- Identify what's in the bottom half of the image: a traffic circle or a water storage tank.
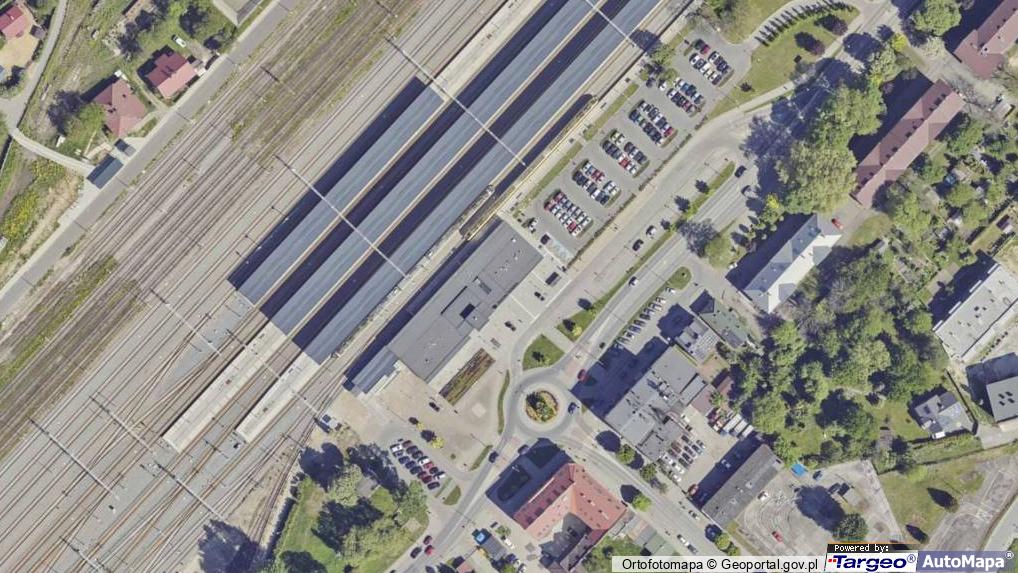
traffic circle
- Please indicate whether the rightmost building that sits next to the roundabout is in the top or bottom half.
bottom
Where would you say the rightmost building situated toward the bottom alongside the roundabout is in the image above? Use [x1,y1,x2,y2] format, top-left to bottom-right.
[605,344,709,462]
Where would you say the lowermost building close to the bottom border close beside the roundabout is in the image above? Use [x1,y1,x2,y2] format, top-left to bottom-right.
[512,464,627,572]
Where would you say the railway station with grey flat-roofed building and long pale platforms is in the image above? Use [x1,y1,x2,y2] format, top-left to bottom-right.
[163,0,662,454]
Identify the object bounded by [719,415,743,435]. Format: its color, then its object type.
white vehicle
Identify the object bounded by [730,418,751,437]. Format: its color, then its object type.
white vehicle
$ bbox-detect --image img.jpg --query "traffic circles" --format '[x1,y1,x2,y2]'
[508,372,577,441]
